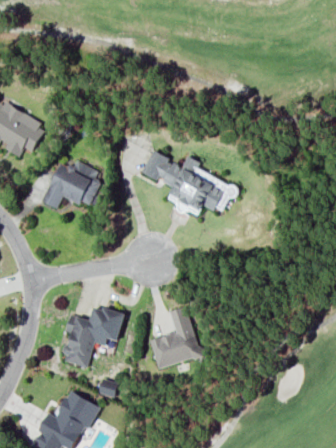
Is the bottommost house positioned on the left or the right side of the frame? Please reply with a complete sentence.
You can find the bottommost house on the left side of the picture.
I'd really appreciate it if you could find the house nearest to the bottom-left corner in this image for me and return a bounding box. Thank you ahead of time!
[38,394,98,448]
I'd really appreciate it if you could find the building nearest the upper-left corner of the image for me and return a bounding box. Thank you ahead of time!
[0,101,46,158]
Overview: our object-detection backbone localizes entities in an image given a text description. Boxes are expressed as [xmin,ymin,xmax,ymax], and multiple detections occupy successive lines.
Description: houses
[142,150,240,216]
[38,394,98,448]
[152,308,205,367]
[0,101,46,158]
[43,158,104,209]
[61,306,126,366]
